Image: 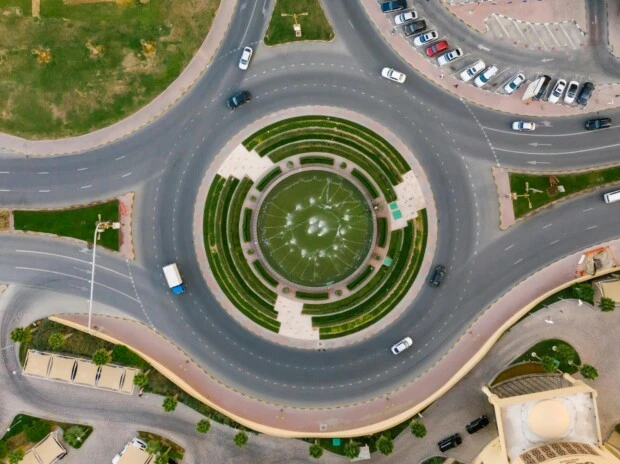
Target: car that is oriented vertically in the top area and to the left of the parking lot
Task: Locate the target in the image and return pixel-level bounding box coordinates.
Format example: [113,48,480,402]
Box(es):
[239,46,252,71]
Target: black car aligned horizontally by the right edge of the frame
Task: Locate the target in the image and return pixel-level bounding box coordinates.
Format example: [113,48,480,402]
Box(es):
[582,116,612,131]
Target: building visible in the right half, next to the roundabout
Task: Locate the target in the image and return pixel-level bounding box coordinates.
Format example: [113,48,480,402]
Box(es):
[463,371,620,464]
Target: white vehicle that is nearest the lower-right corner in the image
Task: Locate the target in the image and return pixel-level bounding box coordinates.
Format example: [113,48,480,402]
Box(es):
[389,335,414,356]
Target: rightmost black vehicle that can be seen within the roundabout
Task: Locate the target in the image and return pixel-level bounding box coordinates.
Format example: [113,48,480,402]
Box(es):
[430,263,447,288]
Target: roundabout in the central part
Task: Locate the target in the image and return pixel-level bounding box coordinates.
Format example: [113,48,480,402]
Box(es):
[144,56,488,400]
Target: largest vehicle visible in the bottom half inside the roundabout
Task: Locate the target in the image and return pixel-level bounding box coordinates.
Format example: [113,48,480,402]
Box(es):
[162,264,185,295]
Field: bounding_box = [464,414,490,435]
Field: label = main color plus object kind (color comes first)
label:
black car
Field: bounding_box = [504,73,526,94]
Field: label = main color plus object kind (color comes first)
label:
white car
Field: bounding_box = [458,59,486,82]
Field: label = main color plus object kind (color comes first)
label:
white car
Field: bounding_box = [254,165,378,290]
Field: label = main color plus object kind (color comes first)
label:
green fountain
